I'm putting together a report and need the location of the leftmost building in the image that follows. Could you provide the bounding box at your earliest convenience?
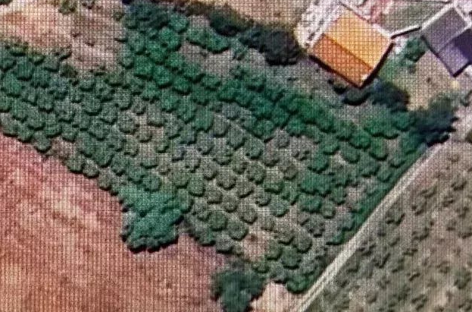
[310,0,392,87]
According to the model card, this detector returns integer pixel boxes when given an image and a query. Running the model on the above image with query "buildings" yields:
[421,0,472,76]
[310,0,392,87]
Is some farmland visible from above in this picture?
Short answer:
Yes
